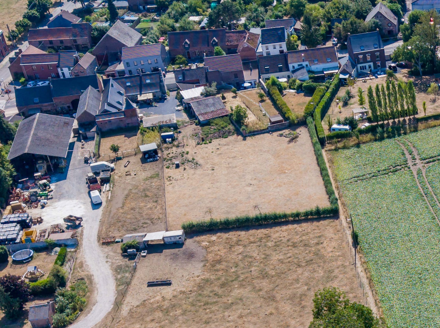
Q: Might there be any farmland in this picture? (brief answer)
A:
Yes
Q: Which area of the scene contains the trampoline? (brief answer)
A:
bottom left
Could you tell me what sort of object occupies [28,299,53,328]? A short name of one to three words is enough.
shed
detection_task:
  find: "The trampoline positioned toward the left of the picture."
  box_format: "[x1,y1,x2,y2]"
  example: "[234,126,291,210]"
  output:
[10,242,33,265]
